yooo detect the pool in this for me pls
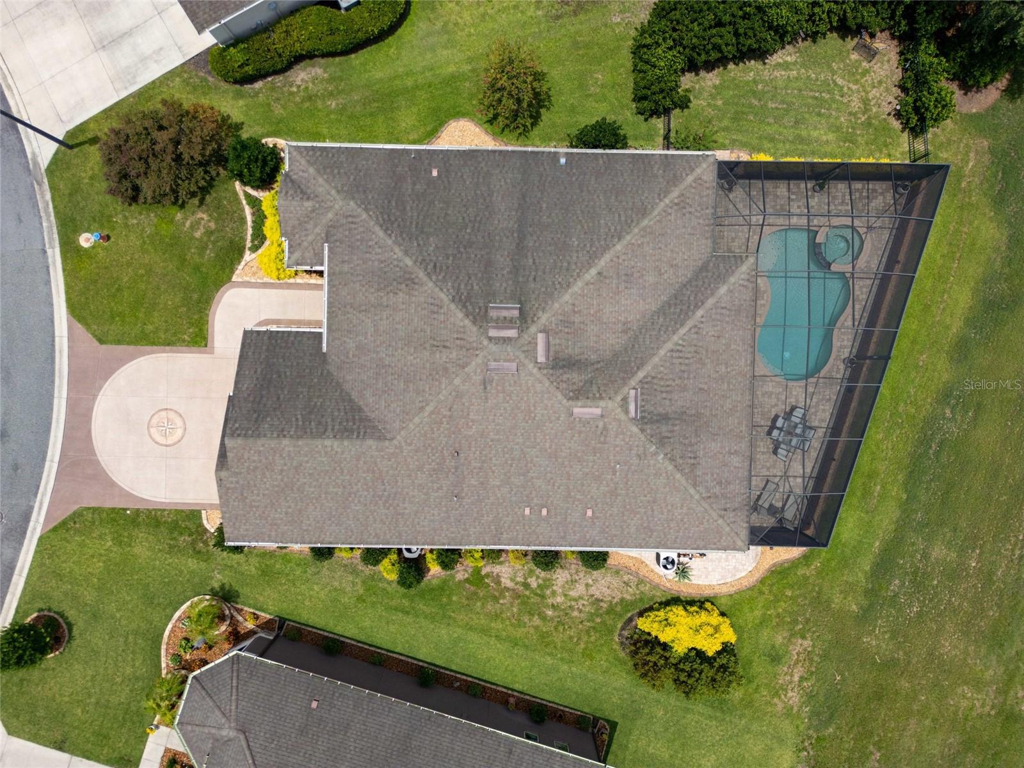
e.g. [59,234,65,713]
[753,220,865,386]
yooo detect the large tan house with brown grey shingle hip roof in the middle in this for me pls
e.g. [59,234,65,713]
[215,144,757,554]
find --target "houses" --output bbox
[179,0,306,44]
[175,631,624,768]
[215,144,757,554]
